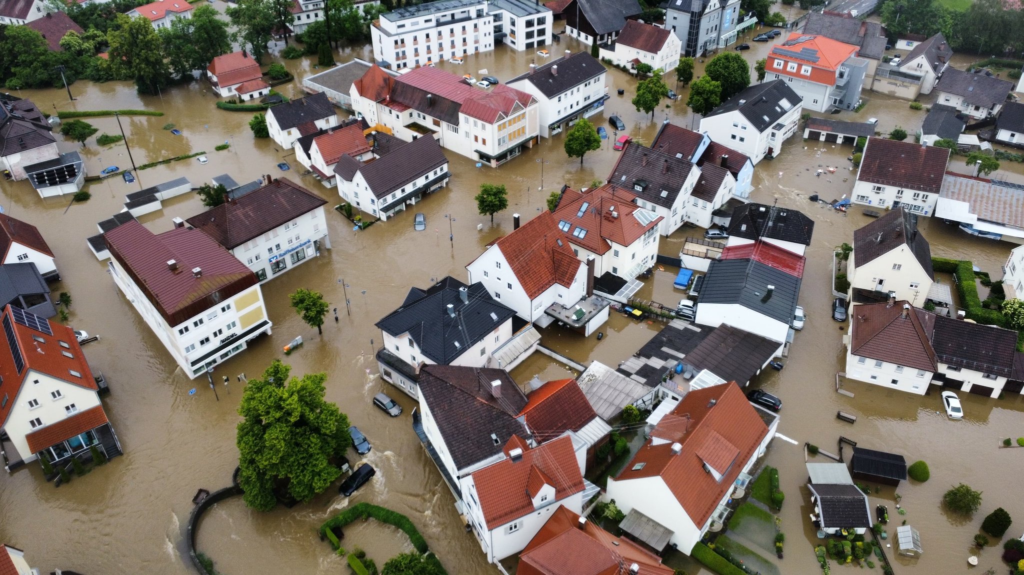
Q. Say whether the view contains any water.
Yes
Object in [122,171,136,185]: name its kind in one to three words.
car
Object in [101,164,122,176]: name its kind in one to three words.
vehicle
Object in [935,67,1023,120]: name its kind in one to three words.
house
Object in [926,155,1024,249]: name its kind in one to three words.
building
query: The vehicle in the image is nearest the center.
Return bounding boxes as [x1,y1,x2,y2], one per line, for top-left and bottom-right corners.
[414,213,426,232]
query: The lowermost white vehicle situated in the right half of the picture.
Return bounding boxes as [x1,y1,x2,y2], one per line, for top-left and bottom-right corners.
[939,394,963,422]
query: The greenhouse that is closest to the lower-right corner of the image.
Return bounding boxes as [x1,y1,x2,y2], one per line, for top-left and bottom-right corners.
[891,523,923,558]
